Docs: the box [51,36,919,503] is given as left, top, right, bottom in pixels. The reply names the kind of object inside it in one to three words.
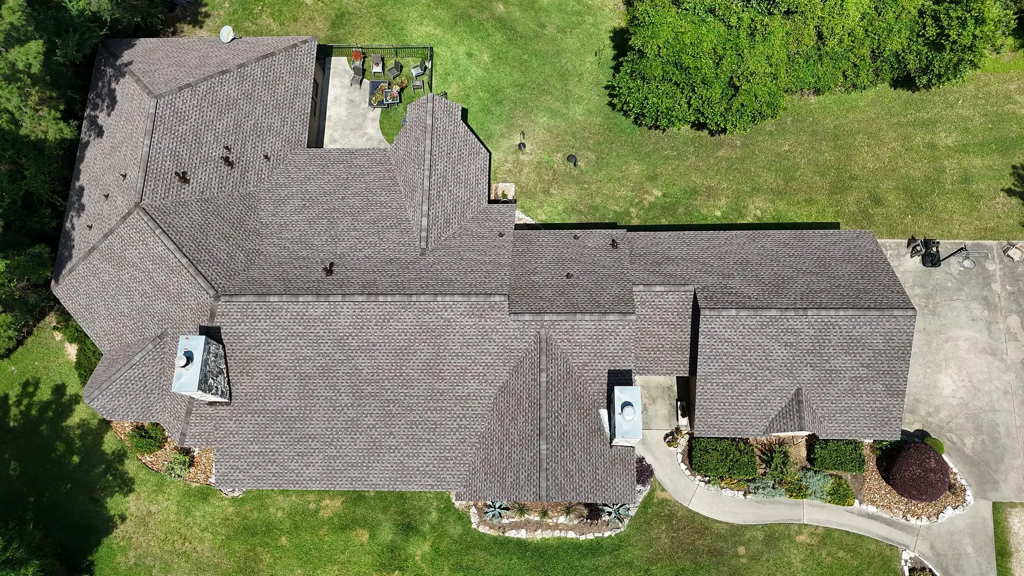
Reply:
house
